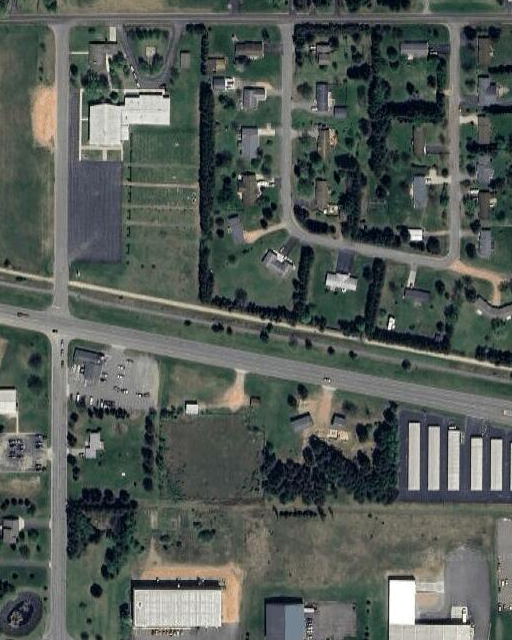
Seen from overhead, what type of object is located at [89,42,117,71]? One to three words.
house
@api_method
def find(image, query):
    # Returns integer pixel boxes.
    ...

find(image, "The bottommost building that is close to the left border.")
[0,518,19,542]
